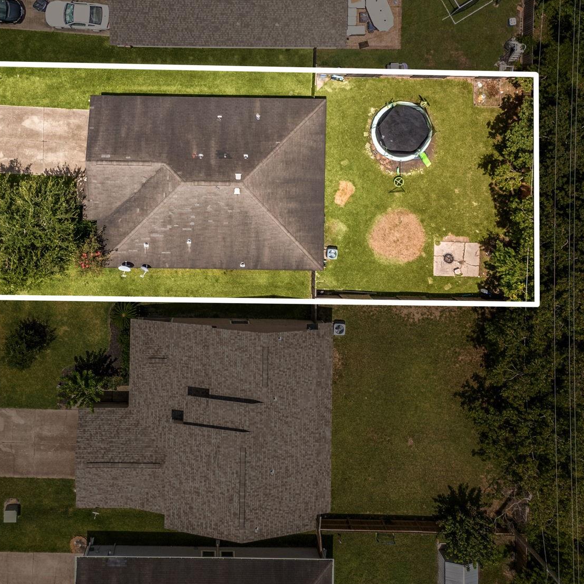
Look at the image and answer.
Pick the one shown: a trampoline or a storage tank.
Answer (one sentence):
It is a trampoline that can be seen here.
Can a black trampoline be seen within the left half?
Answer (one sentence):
No, I see no black trampoline within the left half.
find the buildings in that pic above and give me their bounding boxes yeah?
[72,538,336,584]
[87,96,328,278]
[69,314,334,543]
[105,0,346,49]
[444,549,482,584]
